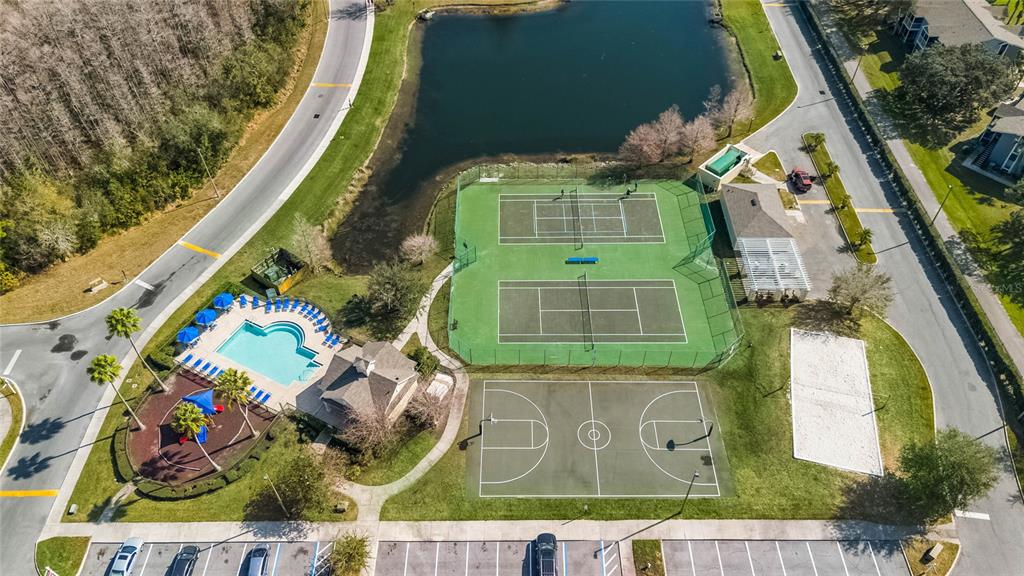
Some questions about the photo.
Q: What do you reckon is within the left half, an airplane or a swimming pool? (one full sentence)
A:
It is a swimming pool that can be seen within the left half.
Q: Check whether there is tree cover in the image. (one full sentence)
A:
Yes, there's tree cover in this view.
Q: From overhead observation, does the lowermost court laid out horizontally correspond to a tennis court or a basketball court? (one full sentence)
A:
It turns out the lowermost court laid out horizontally is a basketball court.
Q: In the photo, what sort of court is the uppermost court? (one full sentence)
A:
It turns out the uppermost court is a tennis court.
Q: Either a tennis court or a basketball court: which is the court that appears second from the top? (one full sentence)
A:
Looking closely, the court that appears second from the top is a tennis court.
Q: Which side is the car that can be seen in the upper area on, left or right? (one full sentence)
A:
It is on the right.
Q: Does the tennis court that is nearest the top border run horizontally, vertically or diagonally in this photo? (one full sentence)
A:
The tennis court that is nearest the top border is oriented horizontally.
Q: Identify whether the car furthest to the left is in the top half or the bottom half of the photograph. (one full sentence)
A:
The bottom half of the photo is where the car furthest to the left is.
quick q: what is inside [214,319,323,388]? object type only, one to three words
swimming pool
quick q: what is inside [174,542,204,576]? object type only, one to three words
car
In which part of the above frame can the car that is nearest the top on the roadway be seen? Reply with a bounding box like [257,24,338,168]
[788,169,815,191]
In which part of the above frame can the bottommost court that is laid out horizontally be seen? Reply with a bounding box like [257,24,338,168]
[466,377,736,504]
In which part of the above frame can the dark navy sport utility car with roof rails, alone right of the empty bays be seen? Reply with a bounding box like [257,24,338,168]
[534,533,557,576]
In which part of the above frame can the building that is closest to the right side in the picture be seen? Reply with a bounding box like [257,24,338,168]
[969,93,1024,173]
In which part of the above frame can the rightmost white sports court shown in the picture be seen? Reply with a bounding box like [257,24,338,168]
[791,327,885,477]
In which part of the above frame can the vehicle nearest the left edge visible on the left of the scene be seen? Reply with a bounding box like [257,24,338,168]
[111,534,144,576]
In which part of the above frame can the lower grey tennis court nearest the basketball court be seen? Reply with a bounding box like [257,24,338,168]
[497,279,687,344]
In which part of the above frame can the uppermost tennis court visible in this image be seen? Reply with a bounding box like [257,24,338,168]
[498,193,666,244]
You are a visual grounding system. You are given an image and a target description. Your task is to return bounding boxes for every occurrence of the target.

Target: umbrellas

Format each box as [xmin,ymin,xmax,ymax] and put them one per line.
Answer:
[197,312,218,331]
[178,329,201,348]
[215,296,236,315]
